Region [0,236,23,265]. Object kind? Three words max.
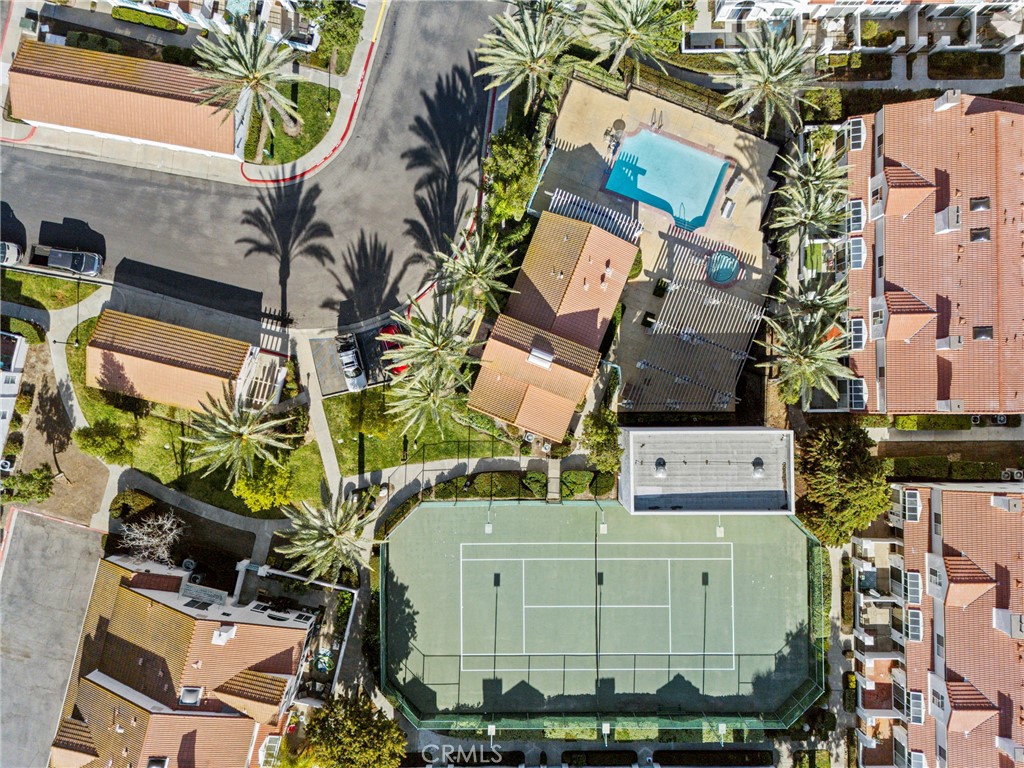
car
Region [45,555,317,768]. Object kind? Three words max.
building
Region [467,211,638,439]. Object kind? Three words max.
building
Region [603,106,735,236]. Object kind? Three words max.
swimming pool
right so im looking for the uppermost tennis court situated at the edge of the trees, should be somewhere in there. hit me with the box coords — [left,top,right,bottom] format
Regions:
[387,500,809,713]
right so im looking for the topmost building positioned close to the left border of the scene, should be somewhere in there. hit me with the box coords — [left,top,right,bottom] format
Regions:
[9,40,246,159]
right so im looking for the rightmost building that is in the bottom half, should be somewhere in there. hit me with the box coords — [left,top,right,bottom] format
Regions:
[890,484,1024,768]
